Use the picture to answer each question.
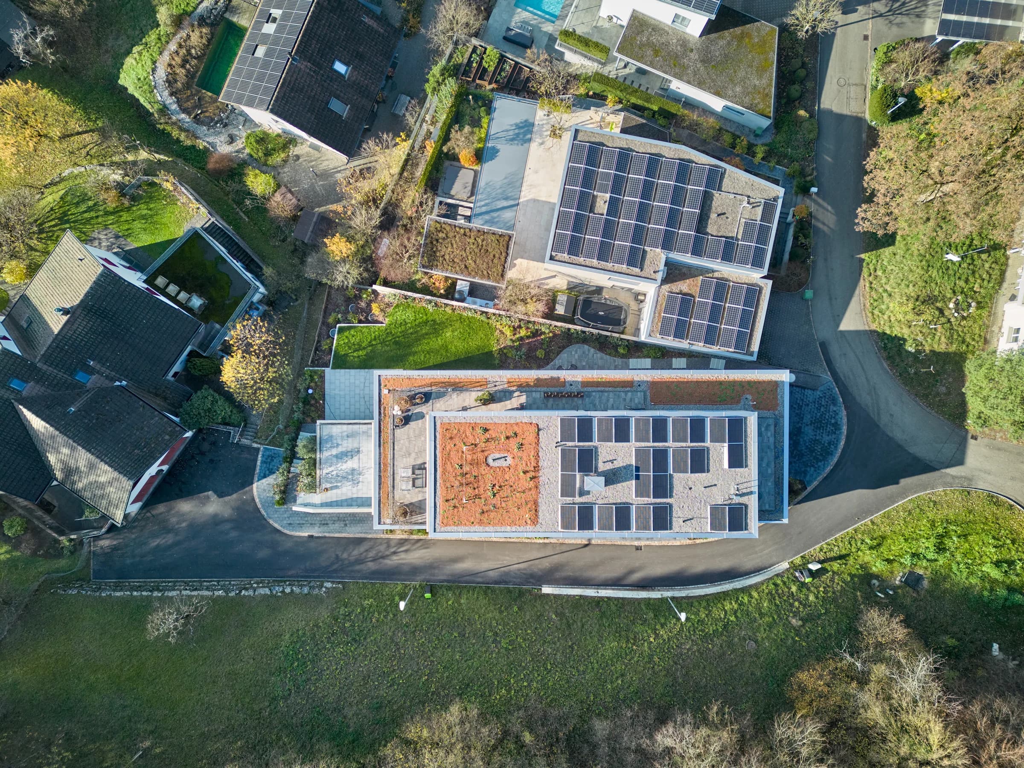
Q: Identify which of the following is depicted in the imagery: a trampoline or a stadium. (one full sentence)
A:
The image shows a trampoline.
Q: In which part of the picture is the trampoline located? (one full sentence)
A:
Look in the center portion of the view to spot the trampoline.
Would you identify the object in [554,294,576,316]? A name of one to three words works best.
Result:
shed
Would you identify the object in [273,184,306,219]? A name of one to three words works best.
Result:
shed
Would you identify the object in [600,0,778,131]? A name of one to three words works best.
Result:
house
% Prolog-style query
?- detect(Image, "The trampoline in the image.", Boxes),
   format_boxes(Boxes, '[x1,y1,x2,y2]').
[572,290,634,333]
